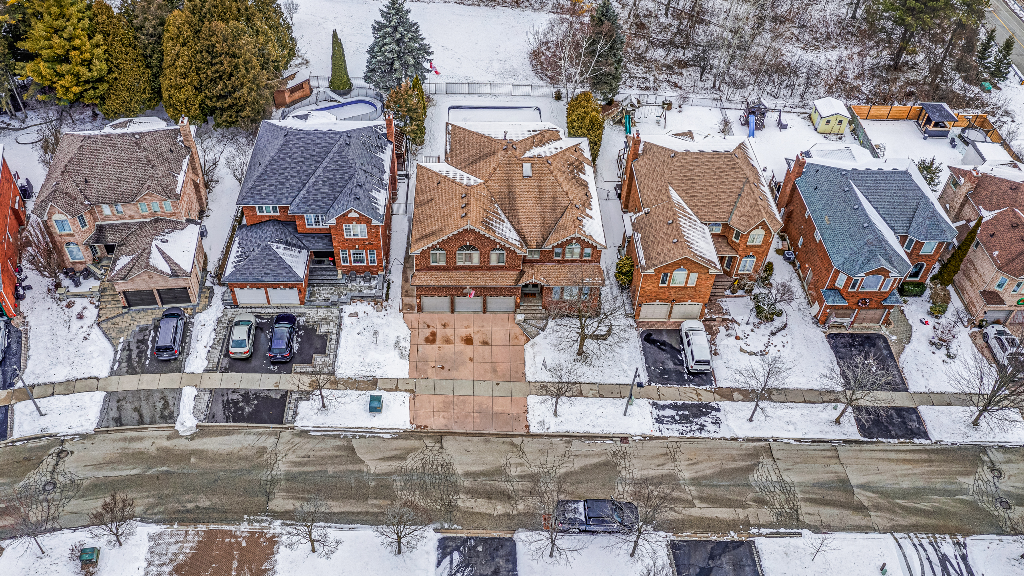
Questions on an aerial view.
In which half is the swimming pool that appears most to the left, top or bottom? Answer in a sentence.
The swimming pool that appears most to the left sits in the top half of the picture.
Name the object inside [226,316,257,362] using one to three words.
car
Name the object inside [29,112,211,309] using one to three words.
house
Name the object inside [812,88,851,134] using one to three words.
shed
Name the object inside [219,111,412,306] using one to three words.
house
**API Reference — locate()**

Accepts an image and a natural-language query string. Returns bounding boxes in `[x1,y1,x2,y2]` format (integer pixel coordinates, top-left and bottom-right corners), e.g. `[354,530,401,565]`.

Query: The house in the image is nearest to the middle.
[406,121,608,327]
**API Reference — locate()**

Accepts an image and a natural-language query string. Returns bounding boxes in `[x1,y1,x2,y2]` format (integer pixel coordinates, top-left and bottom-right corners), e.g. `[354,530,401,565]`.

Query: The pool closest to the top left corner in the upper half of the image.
[296,92,387,120]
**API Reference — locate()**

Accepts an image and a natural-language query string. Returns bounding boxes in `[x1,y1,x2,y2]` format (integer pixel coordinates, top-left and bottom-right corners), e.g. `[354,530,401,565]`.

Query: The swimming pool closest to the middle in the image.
[444,105,542,138]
